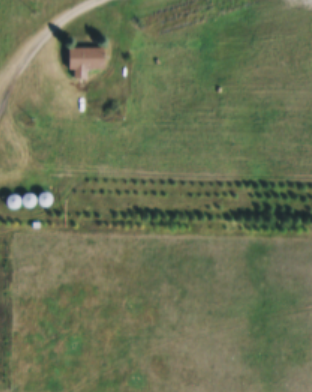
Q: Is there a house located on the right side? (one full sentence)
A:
No, no house is visible on the right side.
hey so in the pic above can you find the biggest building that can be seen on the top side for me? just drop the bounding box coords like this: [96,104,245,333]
[69,46,104,79]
